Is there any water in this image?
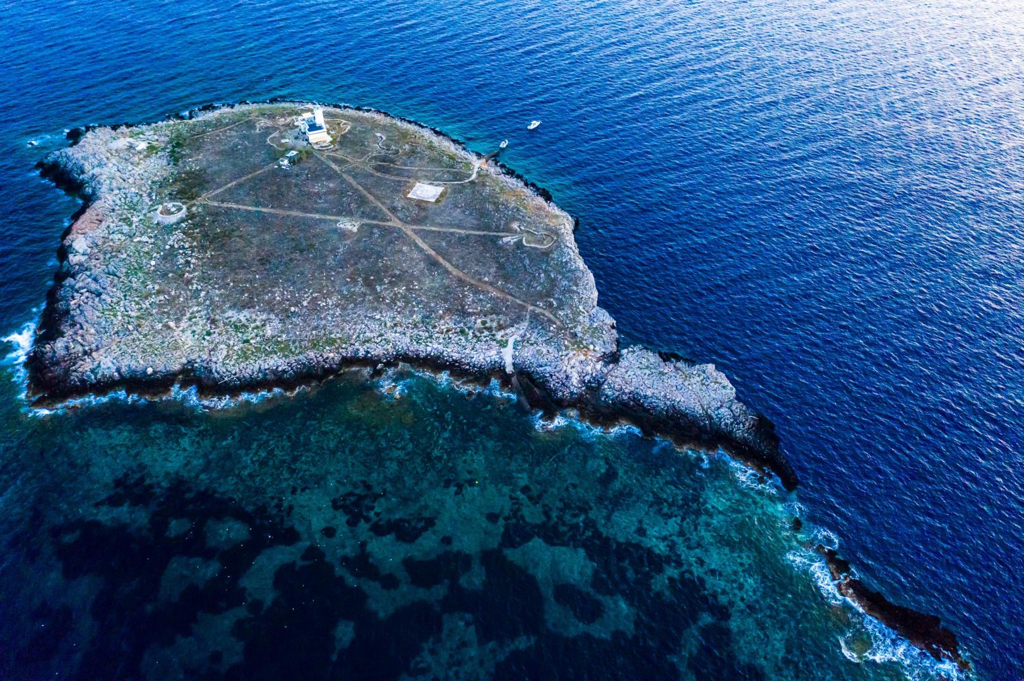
Yes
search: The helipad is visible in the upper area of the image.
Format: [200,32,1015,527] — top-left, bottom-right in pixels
[407,183,444,202]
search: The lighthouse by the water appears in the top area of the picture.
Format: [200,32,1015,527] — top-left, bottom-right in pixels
[291,106,338,146]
